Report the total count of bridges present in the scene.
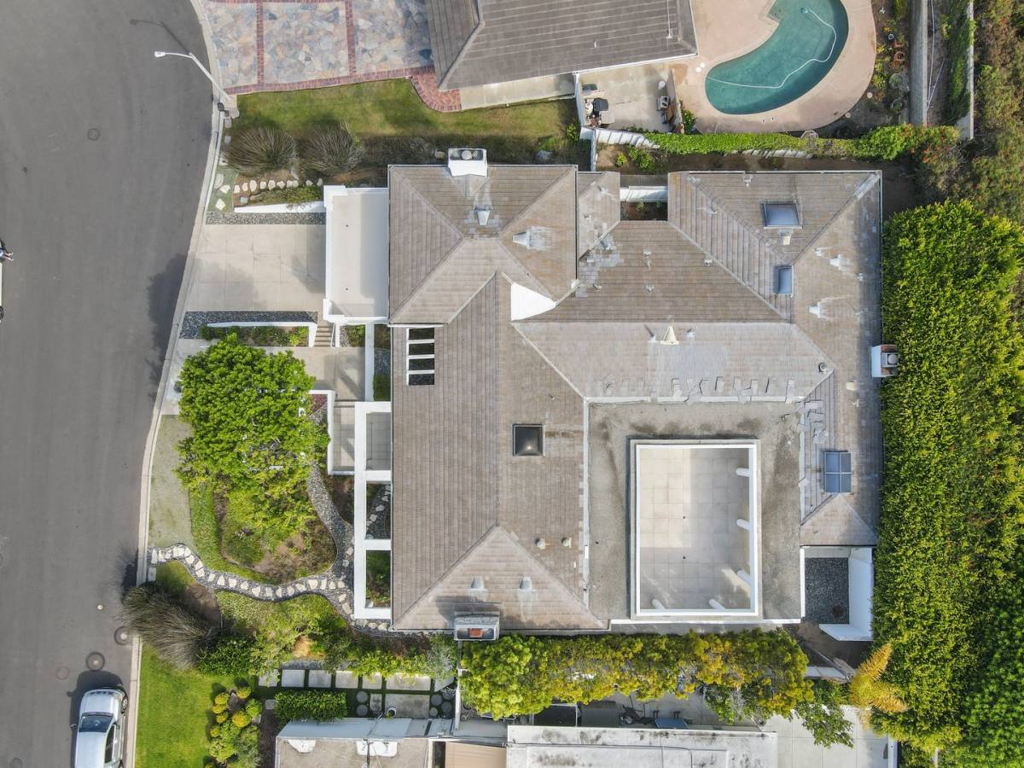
none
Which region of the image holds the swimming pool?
top right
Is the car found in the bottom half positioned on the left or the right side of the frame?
left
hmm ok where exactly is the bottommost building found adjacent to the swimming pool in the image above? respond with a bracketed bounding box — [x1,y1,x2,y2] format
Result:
[386,148,900,639]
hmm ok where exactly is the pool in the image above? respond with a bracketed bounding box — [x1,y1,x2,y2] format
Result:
[699,0,856,121]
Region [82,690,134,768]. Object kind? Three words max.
car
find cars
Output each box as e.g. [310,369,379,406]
[0,244,8,328]
[82,690,134,768]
